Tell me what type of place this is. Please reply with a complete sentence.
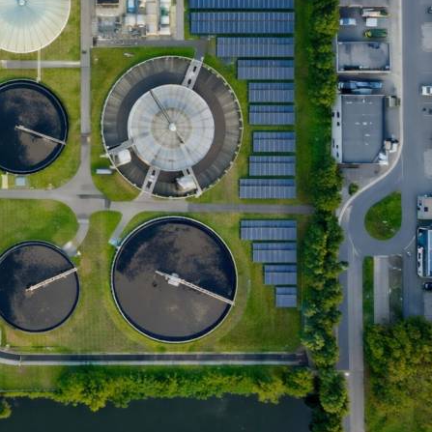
It's an industrial area.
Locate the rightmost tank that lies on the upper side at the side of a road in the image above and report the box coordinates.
[101,55,244,199]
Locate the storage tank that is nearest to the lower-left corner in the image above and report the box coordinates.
[0,241,80,333]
